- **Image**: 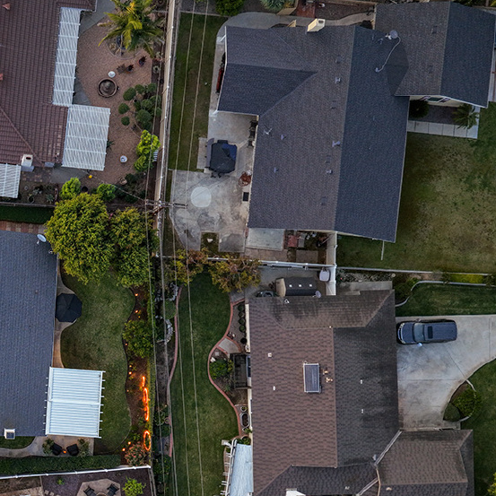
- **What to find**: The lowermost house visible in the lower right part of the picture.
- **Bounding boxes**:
[247,289,474,496]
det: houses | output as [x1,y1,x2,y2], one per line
[0,231,56,440]
[247,289,474,496]
[216,0,496,243]
[0,0,96,174]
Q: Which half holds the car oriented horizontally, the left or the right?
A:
right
